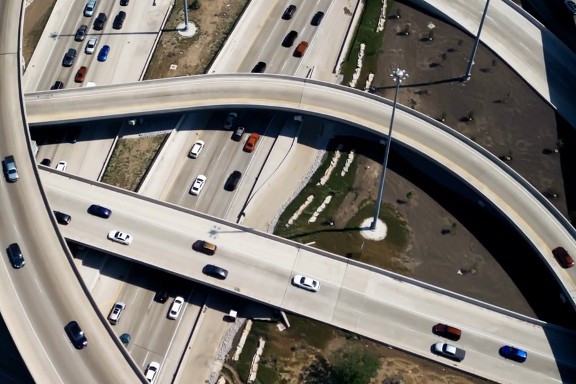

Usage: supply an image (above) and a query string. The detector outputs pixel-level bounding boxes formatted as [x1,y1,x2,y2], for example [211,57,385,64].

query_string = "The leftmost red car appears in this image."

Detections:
[74,66,88,83]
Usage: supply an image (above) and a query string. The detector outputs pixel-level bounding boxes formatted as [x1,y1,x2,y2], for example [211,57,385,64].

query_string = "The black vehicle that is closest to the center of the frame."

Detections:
[225,170,240,191]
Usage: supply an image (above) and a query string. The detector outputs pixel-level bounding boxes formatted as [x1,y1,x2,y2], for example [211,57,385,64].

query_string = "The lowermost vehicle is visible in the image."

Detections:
[145,358,160,384]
